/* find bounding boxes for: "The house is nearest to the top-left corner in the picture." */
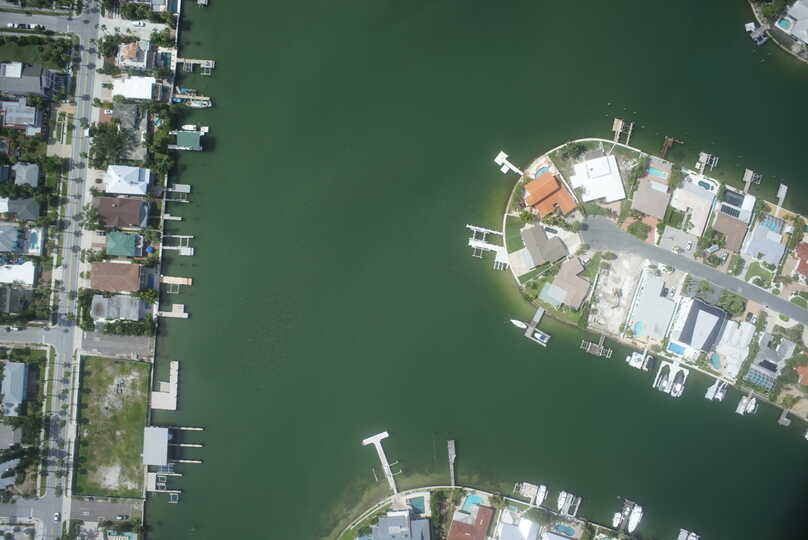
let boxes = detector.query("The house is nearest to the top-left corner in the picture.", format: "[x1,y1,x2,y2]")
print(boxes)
[0,62,55,96]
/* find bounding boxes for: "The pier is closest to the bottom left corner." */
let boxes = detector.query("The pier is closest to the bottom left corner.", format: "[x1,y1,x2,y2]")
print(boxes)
[146,472,182,494]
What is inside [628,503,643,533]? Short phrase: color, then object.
white boat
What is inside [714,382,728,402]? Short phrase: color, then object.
white boat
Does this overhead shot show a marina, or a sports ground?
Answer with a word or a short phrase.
marina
